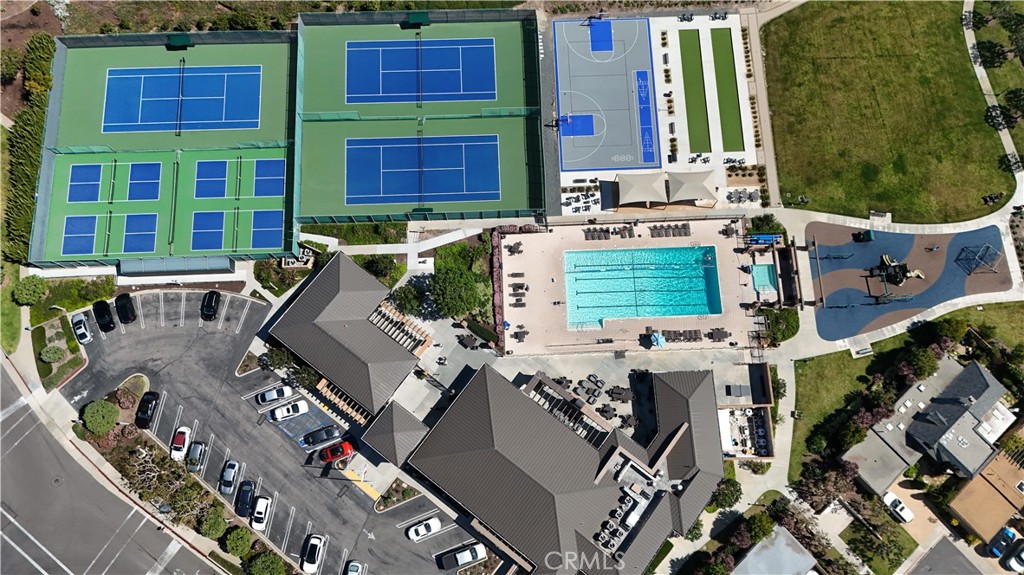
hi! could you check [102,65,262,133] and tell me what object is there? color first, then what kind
blue tennis court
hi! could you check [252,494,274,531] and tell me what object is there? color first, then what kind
white car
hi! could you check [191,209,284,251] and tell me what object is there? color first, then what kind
blue sports court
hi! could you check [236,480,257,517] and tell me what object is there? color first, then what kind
black car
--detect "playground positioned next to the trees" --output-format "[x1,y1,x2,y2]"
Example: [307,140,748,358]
[806,223,1014,341]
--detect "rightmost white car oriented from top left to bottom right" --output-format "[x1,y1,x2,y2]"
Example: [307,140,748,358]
[883,492,917,525]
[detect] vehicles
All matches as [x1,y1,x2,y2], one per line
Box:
[171,426,193,461]
[135,391,160,429]
[187,440,208,473]
[441,543,486,570]
[94,300,117,333]
[74,312,95,346]
[273,399,309,423]
[304,425,340,448]
[1004,536,1024,571]
[116,292,139,325]
[883,492,917,525]
[407,517,443,541]
[257,385,293,406]
[320,441,354,463]
[252,494,274,531]
[301,534,326,574]
[987,526,1016,558]
[219,459,241,495]
[236,480,257,517]
[201,290,222,323]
